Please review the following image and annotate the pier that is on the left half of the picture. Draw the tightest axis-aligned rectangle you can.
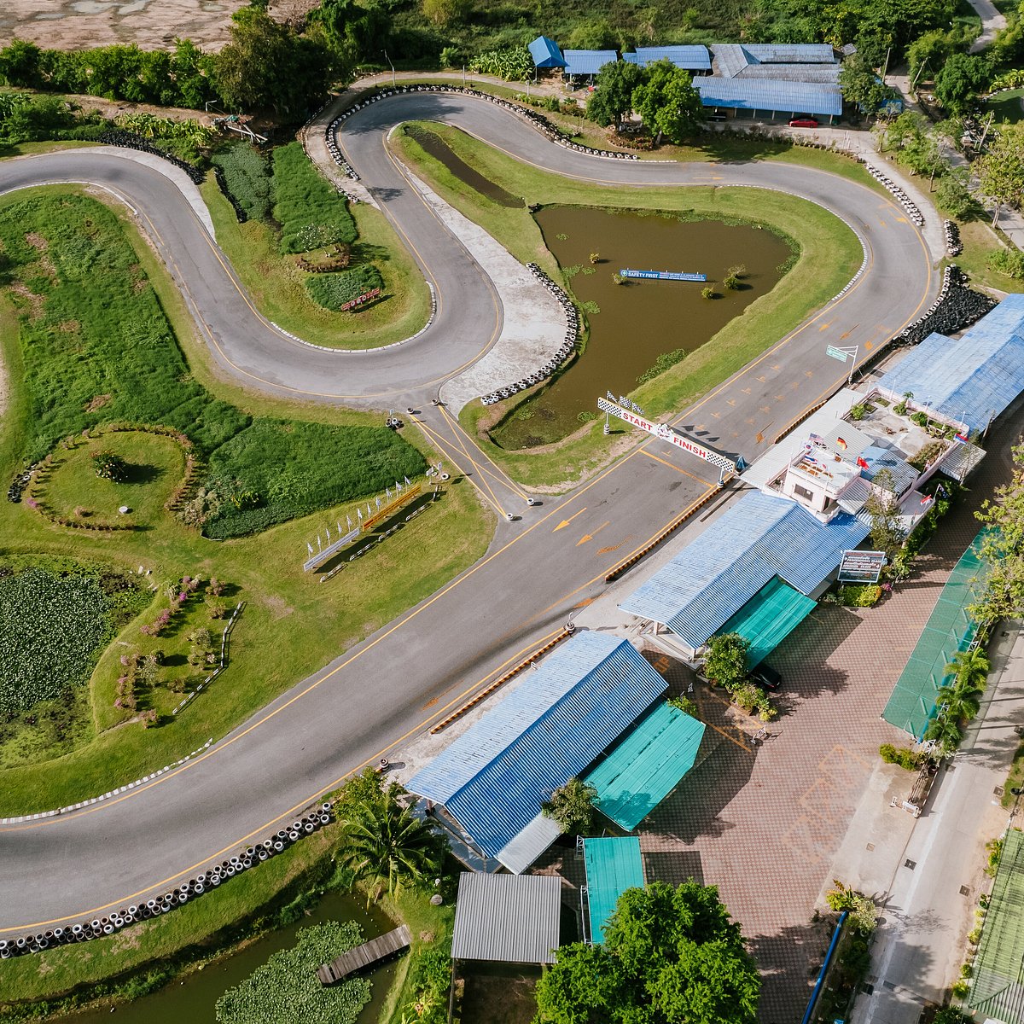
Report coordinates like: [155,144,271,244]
[317,926,411,984]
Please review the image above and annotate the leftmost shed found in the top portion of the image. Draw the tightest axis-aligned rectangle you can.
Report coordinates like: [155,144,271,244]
[526,40,567,88]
